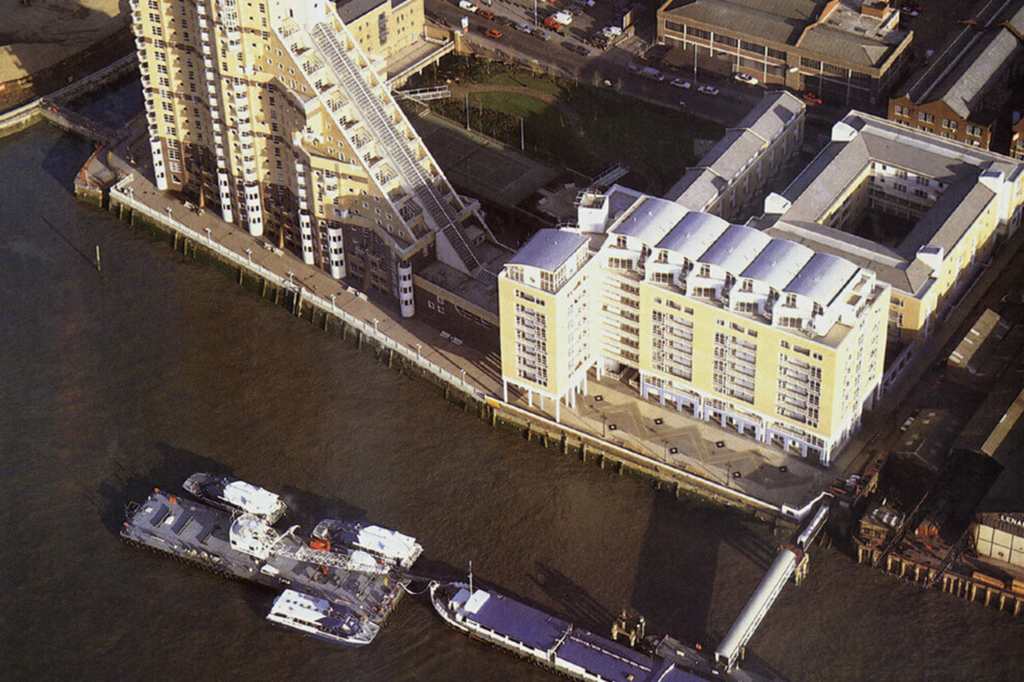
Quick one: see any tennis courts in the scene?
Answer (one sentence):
Yes, there's a tennis court here.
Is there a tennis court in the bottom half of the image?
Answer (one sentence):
No, no tennis court can be made out in the bottom half of the image.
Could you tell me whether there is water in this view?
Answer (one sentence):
Yes, some water is visible.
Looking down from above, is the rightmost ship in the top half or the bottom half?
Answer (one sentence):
The bottom half of the photo is where the rightmost ship is.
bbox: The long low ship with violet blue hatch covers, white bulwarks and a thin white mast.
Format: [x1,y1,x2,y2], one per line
[424,554,726,682]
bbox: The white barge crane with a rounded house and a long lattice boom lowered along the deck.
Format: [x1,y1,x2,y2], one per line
[229,509,389,576]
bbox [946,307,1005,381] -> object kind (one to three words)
shed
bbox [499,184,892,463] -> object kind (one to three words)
building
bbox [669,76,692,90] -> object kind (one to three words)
car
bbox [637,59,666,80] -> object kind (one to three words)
vehicle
